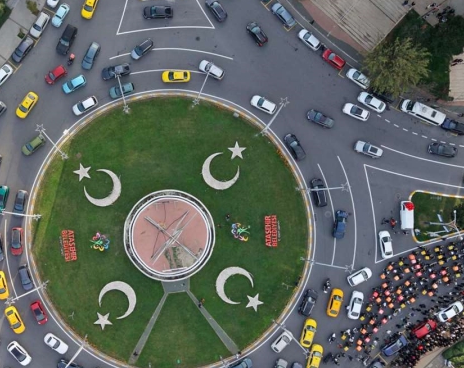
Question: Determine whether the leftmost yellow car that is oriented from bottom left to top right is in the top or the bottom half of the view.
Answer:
top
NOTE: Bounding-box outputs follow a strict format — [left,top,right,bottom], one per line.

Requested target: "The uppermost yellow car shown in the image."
[83,0,99,21]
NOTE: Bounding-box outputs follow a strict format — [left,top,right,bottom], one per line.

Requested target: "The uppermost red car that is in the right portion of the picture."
[320,48,346,71]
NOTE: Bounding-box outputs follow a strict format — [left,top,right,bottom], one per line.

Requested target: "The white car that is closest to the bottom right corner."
[435,299,463,321]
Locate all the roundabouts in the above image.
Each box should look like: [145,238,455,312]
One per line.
[30,93,310,368]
